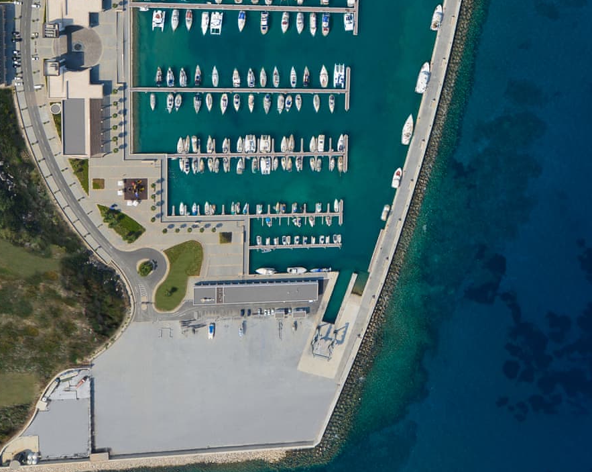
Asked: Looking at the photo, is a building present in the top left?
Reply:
Yes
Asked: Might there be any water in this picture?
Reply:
Yes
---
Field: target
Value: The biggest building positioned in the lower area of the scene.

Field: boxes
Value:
[193,279,319,305]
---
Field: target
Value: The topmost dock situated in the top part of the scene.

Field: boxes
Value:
[132,0,358,35]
